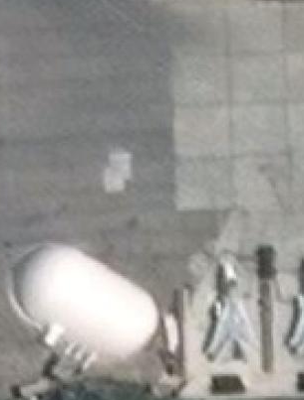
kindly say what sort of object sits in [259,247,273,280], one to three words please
vehicle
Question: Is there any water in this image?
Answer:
No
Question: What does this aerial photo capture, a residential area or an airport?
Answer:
airport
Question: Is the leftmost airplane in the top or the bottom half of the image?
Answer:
bottom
